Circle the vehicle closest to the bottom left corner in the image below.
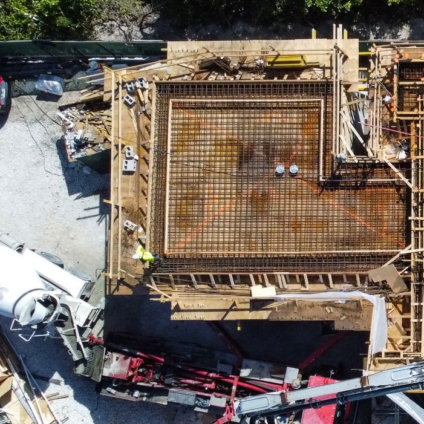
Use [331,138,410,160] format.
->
[0,229,108,366]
